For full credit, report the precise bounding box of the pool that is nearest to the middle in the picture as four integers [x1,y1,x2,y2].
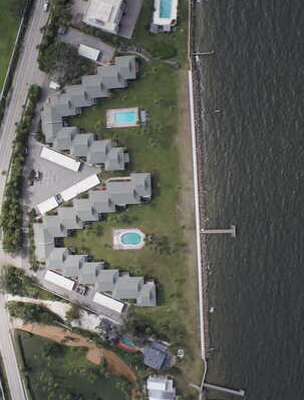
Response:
[114,228,145,249]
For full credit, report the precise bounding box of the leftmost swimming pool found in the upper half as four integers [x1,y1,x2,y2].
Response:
[107,108,138,128]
